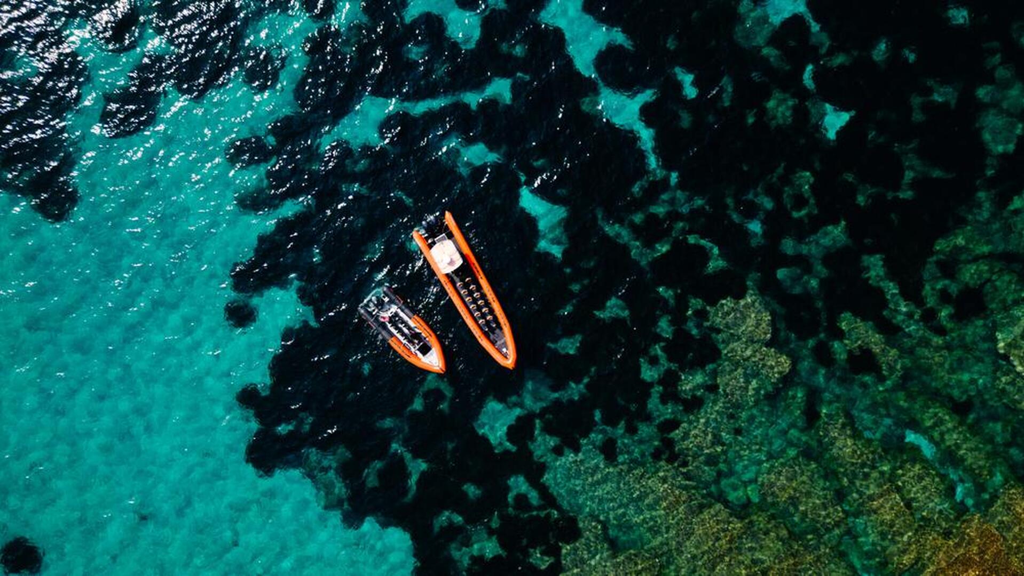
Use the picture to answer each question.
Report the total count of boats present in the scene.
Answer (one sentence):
The count of boats comes to 2.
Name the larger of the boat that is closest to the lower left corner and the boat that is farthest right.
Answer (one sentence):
The boat that is farthest right is larger than the boat that is closest to the lower left corner.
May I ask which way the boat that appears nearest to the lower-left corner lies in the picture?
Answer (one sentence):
I'd say the boat that appears nearest to the lower-left corner is aligned at an angle in the picture.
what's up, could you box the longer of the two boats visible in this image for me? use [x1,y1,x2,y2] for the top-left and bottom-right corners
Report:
[413,211,516,371]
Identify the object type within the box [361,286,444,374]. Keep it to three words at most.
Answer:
boat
